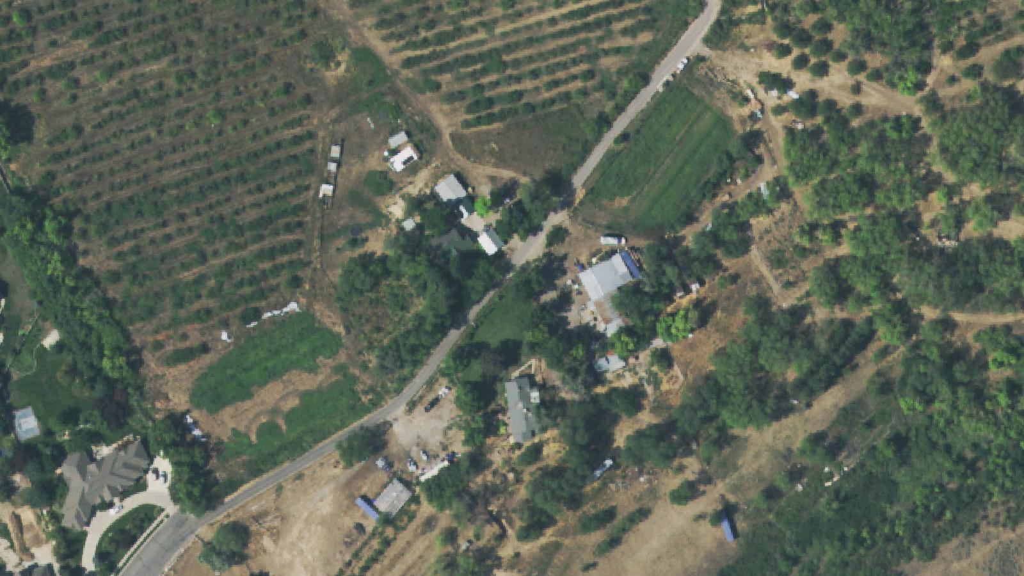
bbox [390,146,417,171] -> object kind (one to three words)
shed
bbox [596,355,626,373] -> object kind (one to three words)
house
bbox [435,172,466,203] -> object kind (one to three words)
barn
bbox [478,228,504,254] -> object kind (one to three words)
building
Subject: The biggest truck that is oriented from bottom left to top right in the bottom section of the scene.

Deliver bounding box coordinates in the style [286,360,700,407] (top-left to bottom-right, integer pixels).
[591,459,615,480]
